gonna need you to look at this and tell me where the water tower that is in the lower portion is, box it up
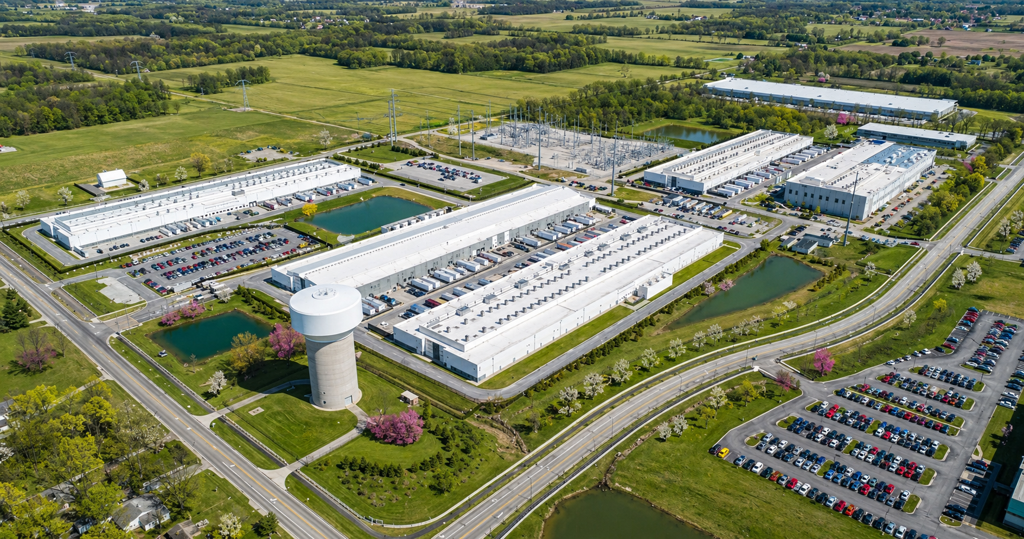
[288,285,365,410]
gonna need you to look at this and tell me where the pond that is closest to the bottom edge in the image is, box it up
[542,486,705,539]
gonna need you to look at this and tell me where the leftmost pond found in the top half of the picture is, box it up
[303,196,432,235]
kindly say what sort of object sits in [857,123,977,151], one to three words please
building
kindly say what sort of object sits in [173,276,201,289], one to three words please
vehicle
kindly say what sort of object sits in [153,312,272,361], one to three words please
pond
